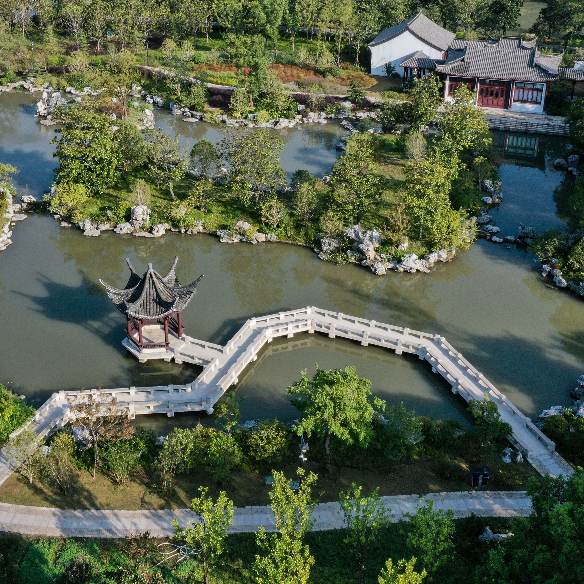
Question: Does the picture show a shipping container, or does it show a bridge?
bridge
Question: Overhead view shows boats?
No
